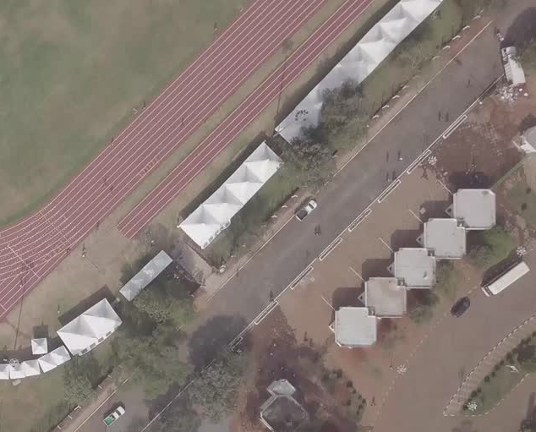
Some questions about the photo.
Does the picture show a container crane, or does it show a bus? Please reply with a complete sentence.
There is a bus in the scene.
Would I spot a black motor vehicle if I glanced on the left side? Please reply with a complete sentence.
No, the scene shows no black motor vehicle on the left side.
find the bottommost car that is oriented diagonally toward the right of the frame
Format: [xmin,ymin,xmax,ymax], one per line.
[451,297,473,316]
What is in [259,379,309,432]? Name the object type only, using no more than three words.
building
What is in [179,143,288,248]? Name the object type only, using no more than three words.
tent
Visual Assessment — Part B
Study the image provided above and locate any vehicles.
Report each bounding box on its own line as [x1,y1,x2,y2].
[483,262,532,298]
[500,49,525,87]
[295,199,318,222]
[451,297,473,316]
[103,405,126,428]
